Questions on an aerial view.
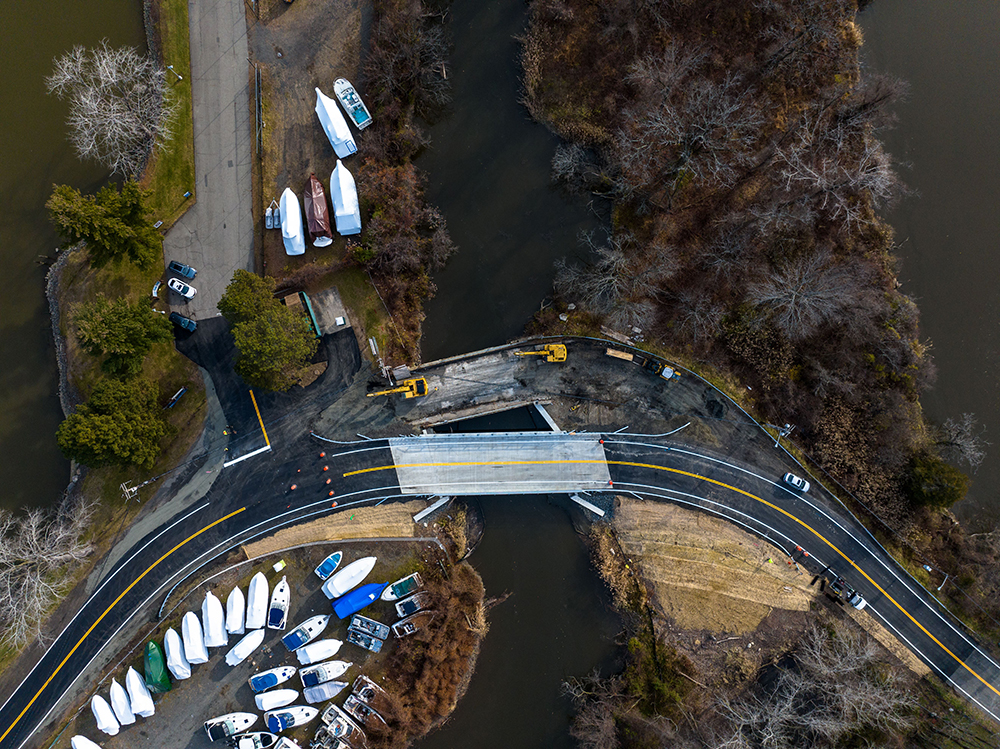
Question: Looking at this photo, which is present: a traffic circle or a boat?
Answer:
boat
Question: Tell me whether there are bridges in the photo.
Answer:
Yes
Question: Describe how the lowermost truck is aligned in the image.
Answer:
diagonally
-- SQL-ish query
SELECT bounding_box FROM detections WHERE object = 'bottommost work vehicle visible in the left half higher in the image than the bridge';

[369,379,429,398]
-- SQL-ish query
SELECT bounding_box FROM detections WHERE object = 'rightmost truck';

[826,576,867,611]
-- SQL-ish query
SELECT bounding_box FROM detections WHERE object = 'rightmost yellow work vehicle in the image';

[515,344,566,362]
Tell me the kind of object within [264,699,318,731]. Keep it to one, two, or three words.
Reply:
boat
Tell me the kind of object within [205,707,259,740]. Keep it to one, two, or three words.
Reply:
boat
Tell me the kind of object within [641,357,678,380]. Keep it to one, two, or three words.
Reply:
work vehicle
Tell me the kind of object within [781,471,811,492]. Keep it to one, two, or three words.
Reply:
car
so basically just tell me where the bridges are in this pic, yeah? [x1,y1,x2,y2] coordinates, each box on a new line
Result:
[389,401,613,521]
